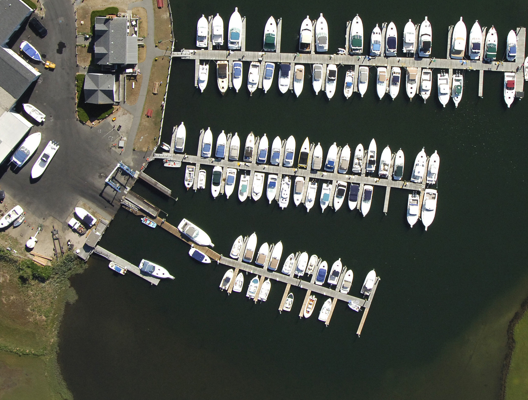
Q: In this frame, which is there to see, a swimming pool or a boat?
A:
boat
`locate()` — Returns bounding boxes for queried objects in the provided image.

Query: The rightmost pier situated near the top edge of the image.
[182,16,528,96]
